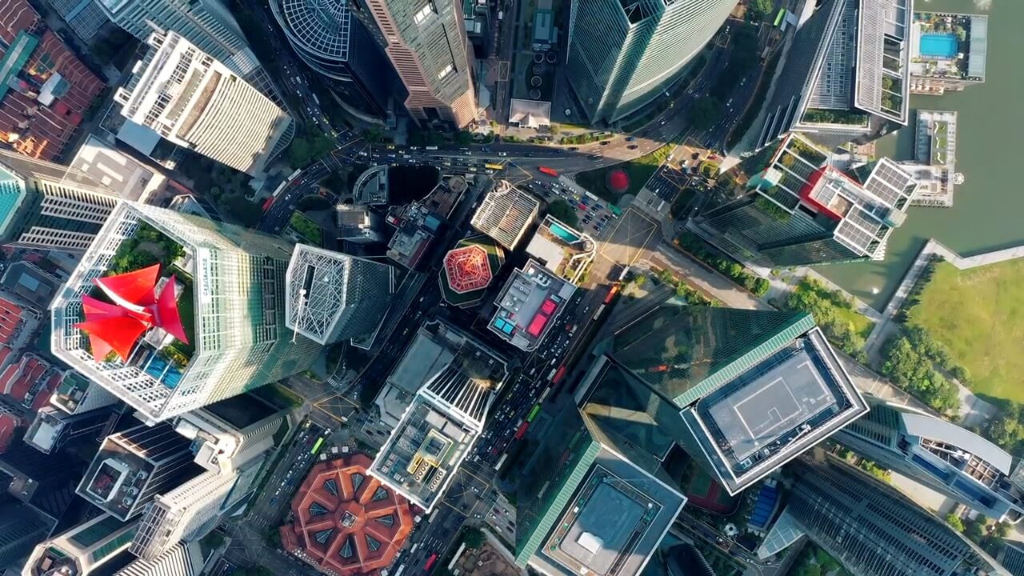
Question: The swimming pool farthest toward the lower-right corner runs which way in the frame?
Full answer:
From this overhead view, the swimming pool farthest toward the lower-right corner appears to run on a diagonal.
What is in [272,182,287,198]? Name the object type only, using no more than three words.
vehicle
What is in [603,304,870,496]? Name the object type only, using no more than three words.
building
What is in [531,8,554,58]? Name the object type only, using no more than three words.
building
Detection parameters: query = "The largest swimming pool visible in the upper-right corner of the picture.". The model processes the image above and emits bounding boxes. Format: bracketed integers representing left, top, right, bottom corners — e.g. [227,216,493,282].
[920,34,959,56]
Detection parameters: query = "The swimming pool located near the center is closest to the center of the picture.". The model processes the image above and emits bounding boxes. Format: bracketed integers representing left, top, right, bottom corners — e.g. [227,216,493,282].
[550,224,578,244]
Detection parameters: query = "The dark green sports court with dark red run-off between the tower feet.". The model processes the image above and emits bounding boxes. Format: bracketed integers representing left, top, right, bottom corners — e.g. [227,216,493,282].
[669,447,740,514]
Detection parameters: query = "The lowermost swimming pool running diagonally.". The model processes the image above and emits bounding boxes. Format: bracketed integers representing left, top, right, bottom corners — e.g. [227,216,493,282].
[953,477,997,509]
